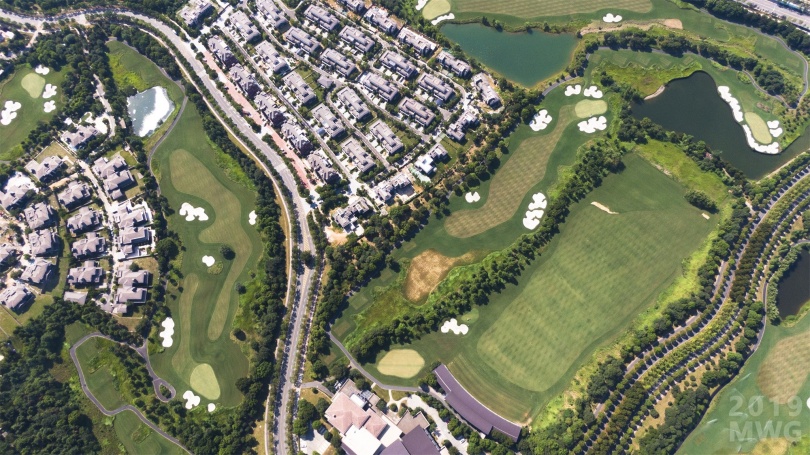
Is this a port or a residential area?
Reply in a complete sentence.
The area seen from above is a residential area.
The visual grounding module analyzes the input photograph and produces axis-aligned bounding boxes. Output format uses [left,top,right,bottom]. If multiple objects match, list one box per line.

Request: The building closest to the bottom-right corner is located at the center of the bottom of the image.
[433,363,521,443]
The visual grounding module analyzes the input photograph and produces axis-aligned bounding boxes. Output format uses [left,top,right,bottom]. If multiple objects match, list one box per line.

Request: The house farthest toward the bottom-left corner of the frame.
[1,283,35,317]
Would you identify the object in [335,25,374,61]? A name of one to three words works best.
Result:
house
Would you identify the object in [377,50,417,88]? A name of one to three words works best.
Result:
house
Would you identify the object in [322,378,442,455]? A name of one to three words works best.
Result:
building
